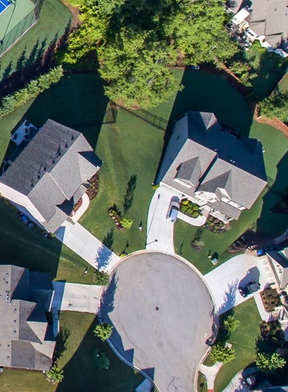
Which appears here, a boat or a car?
car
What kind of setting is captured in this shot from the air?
residential area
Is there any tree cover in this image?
Yes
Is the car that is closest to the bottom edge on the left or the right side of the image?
right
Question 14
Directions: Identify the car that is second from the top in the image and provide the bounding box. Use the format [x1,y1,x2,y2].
[241,280,264,299]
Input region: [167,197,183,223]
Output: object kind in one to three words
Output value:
car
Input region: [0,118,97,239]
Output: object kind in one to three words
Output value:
house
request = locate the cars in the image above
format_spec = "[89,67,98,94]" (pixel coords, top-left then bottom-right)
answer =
[241,280,264,299]
[239,369,269,392]
[167,197,183,223]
